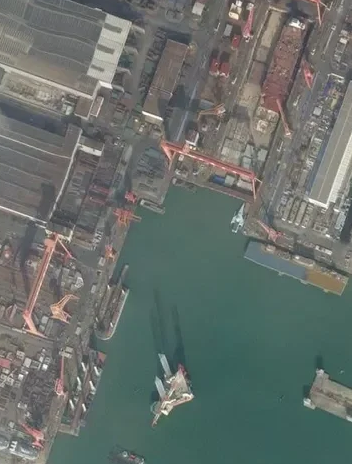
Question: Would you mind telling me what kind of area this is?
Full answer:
What you see here is a port.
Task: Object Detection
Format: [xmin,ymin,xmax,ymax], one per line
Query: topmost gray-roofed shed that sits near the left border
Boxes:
[0,0,133,100]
